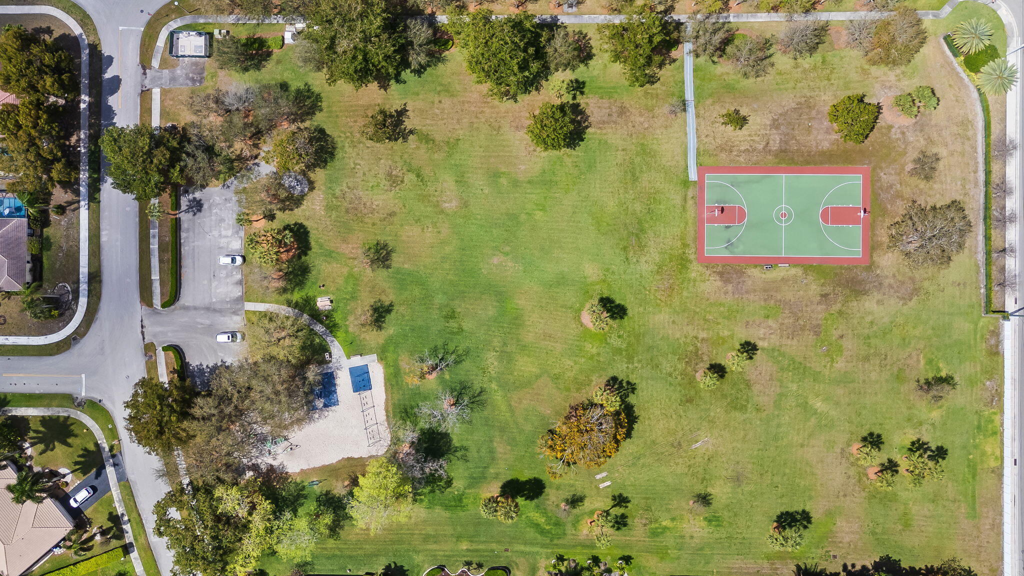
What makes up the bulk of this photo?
grass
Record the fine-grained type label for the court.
basketball court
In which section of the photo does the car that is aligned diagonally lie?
bottom left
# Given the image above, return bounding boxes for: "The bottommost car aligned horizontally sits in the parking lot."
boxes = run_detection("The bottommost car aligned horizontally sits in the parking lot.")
[215,332,243,344]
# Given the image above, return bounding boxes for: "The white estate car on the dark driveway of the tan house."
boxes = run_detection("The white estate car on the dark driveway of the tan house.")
[70,486,96,507]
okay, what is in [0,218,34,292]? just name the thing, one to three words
house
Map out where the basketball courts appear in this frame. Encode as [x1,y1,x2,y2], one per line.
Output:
[698,166,871,264]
